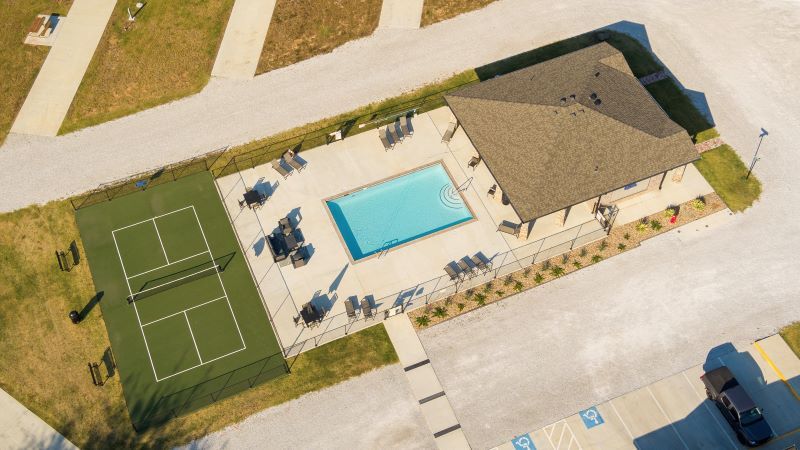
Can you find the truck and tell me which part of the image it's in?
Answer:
bottom right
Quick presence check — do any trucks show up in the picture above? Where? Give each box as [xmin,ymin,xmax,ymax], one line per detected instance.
[698,365,773,450]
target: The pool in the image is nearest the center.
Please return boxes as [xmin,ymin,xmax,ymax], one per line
[323,159,478,264]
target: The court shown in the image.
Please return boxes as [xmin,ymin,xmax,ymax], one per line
[76,168,291,430]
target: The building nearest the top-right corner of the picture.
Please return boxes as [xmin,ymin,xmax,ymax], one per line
[441,44,704,241]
